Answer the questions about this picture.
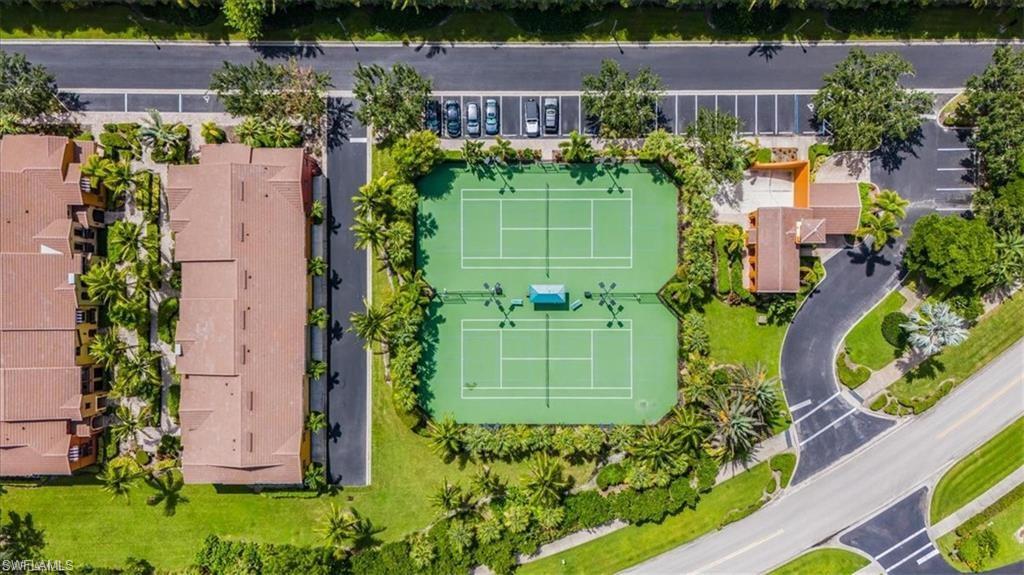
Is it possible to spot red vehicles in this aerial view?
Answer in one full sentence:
No, there isn't any red vehicle down there.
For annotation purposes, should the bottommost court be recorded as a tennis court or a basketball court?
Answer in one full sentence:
Looking closely, the bottommost court is a tennis court.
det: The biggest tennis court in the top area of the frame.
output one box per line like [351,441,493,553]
[417,163,678,293]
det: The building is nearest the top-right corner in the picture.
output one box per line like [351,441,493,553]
[746,162,865,294]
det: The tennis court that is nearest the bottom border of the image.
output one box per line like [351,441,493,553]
[417,293,678,425]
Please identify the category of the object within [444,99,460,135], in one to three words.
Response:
car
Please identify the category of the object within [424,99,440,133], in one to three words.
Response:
car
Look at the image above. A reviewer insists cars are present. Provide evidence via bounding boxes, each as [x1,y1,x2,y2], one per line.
[444,99,460,135]
[544,98,560,133]
[524,98,541,134]
[484,99,500,134]
[465,102,480,134]
[424,99,440,133]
